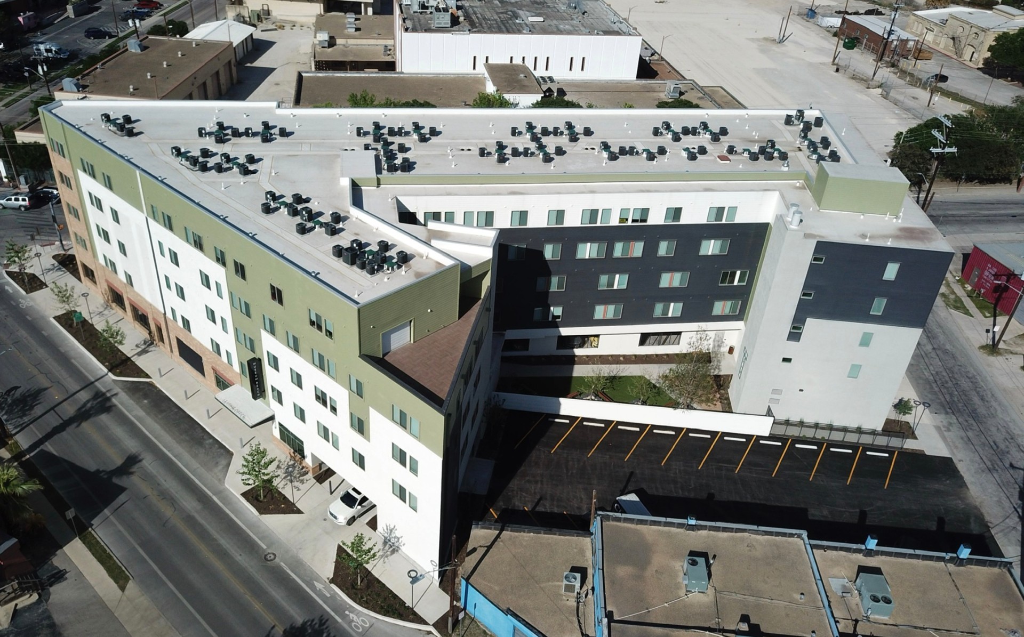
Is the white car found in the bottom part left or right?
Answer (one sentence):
The white car found in the bottom part appears in the left half of the scene.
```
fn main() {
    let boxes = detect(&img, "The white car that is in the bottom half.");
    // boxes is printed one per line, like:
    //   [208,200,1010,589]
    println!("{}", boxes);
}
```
[327,488,375,529]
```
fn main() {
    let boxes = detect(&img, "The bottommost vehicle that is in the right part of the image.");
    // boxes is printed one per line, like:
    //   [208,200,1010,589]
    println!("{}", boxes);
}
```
[610,495,650,516]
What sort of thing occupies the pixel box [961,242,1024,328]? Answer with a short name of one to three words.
shed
